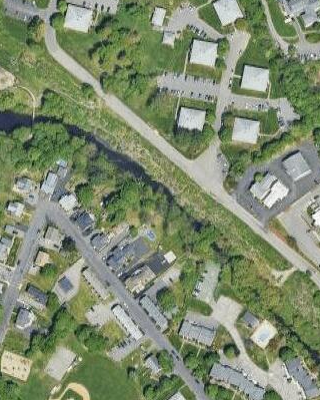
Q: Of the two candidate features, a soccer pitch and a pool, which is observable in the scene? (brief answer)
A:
pool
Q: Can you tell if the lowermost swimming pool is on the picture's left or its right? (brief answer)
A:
right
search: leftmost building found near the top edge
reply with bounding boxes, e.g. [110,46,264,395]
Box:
[62,3,93,32]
